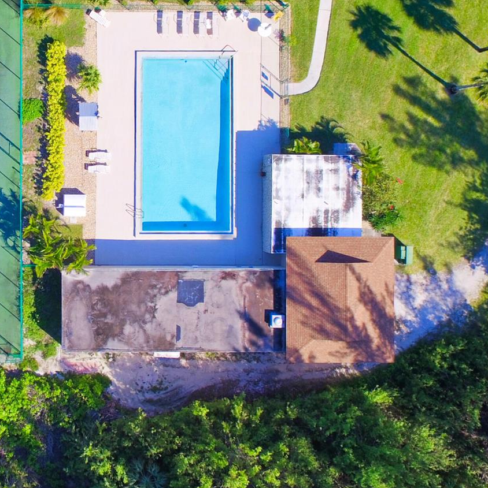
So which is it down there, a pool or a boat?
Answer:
pool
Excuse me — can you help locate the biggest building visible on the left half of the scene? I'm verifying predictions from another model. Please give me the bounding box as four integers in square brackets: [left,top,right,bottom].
[62,267,286,358]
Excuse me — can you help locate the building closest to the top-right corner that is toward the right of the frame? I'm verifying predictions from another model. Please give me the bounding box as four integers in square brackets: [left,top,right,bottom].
[264,155,362,253]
